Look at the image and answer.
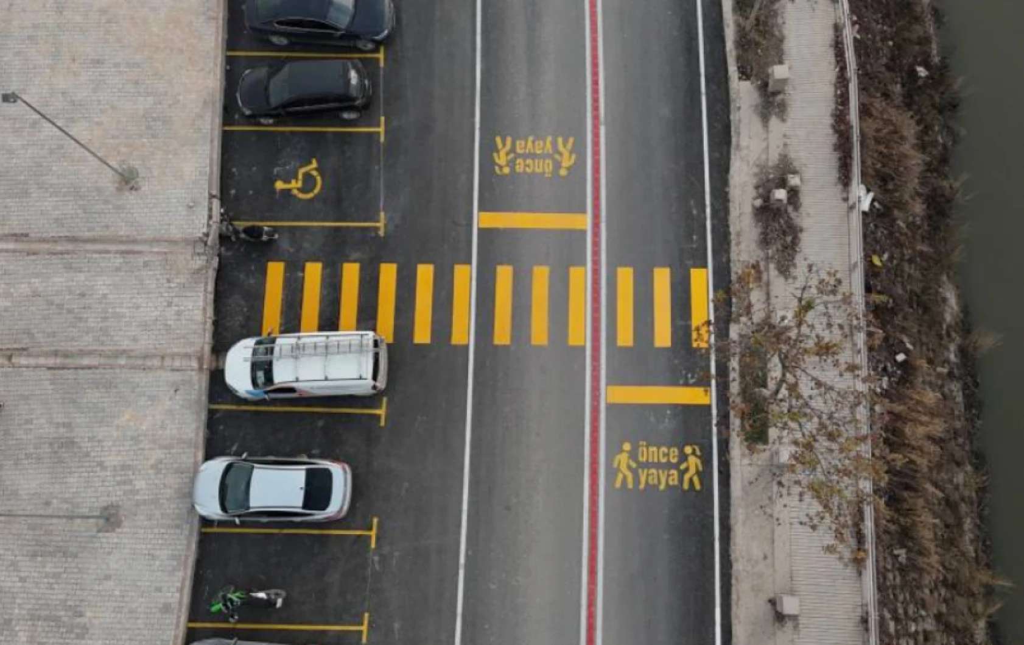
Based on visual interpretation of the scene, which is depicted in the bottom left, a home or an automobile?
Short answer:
automobile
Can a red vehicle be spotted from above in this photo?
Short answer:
No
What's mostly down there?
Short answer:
paved ground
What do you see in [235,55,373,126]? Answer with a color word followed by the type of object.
black car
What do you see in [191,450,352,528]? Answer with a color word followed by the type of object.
white car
